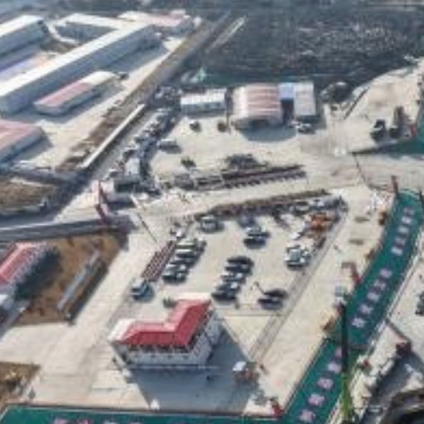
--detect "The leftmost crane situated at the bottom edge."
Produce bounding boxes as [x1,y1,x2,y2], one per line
[322,304,362,424]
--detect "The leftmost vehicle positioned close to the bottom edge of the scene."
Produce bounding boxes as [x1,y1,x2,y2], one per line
[267,386,283,415]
